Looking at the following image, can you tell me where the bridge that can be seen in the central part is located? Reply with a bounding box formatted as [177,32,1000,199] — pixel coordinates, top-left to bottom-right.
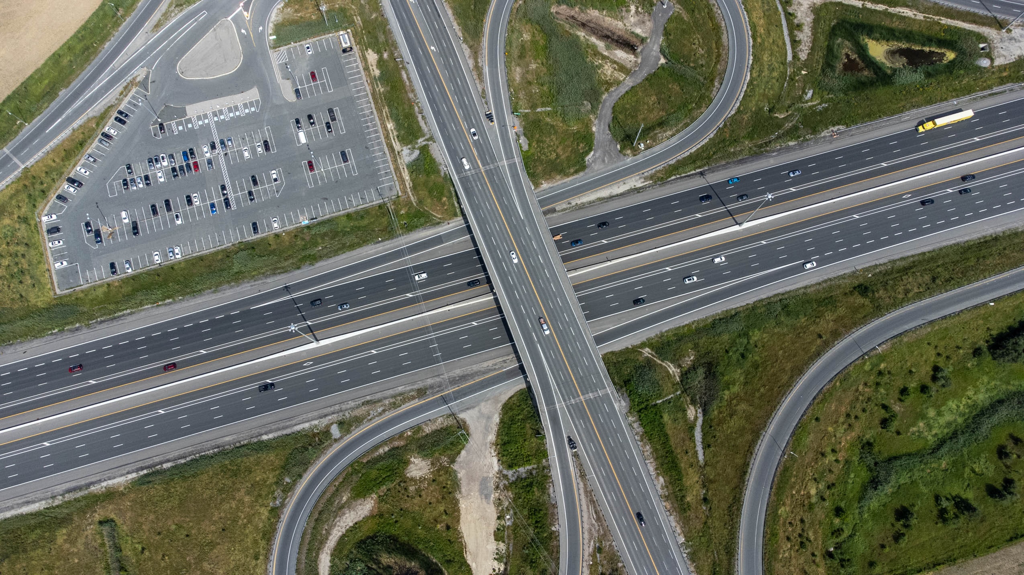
[449,160,618,411]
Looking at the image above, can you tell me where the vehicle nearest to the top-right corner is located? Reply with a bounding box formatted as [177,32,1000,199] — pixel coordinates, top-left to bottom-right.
[918,108,976,130]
